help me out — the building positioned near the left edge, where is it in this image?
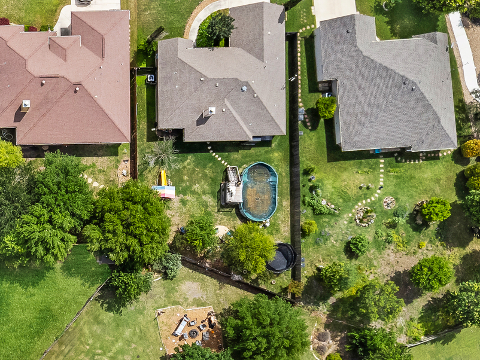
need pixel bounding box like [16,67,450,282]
[0,10,130,146]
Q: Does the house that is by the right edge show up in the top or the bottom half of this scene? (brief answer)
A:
top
